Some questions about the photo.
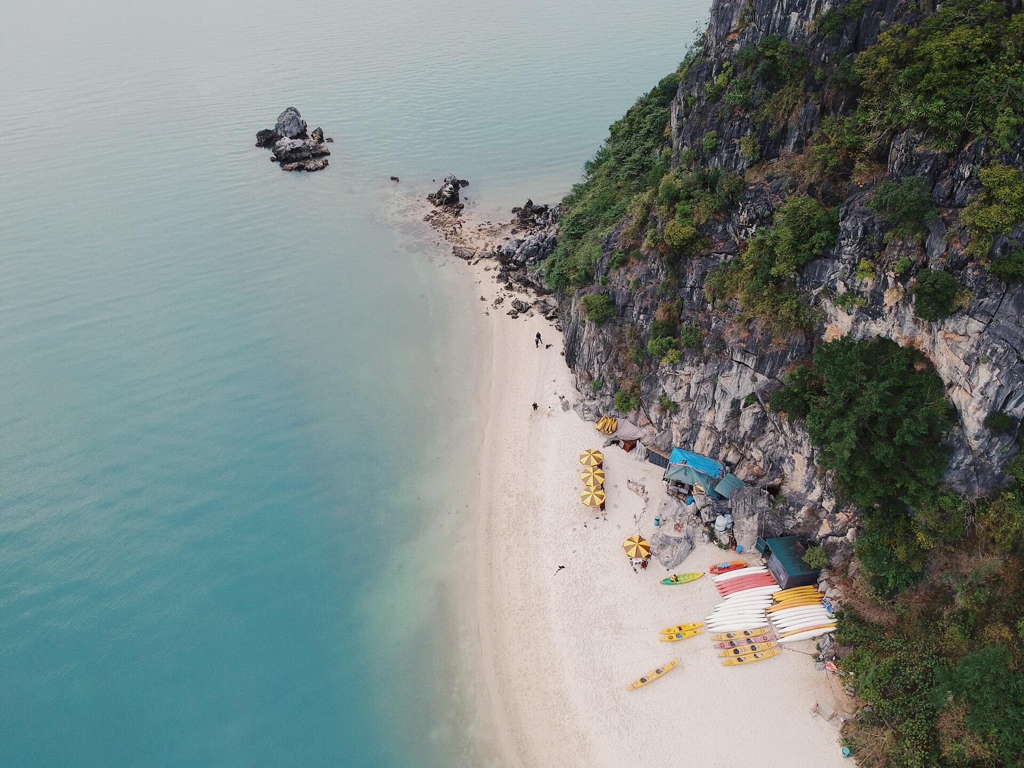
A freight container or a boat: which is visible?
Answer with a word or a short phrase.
boat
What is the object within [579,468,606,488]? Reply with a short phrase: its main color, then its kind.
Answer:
yellow umbrella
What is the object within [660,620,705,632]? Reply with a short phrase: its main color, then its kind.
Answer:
yellow boat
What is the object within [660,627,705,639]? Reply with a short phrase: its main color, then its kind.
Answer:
yellow boat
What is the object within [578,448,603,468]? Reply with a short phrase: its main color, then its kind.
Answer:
yellow umbrella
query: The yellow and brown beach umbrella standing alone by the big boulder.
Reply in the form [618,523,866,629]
[620,535,652,568]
